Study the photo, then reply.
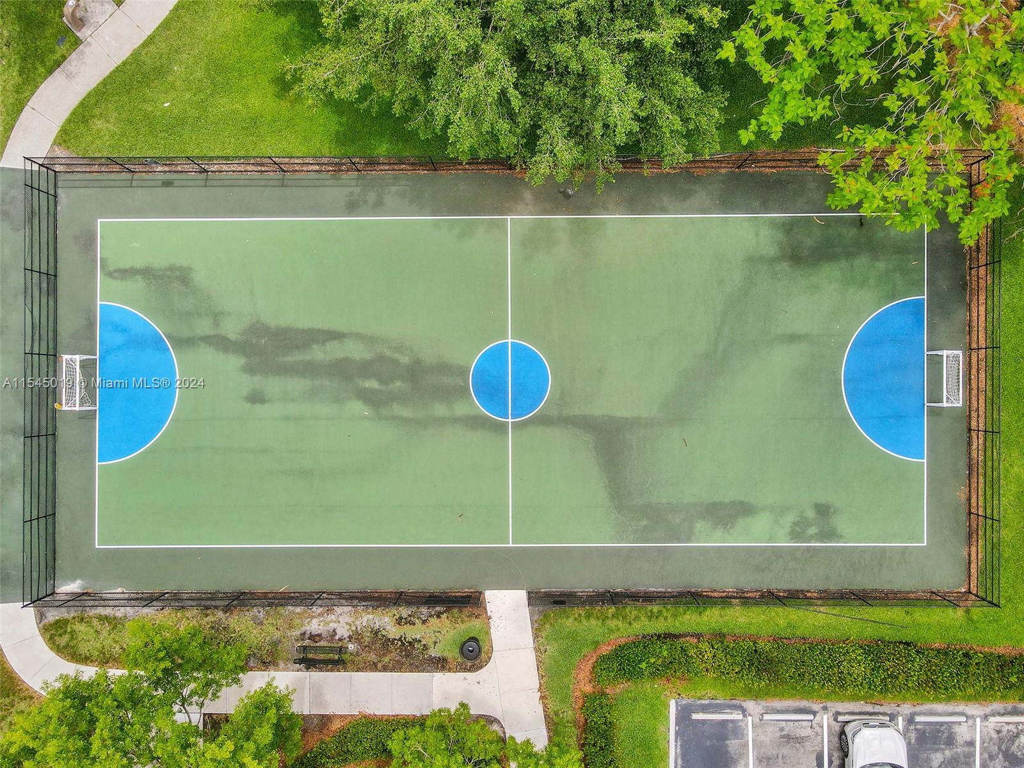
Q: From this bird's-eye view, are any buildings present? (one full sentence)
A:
No, there's no building here.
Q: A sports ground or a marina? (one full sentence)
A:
It's a sports ground.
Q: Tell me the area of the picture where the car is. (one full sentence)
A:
Look in the bottom right portion of the view to spot the car.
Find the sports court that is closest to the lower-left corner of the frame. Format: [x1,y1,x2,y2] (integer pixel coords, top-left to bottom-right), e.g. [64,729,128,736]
[0,166,55,604]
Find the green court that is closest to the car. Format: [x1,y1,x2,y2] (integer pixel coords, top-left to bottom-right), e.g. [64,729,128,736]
[55,168,967,592]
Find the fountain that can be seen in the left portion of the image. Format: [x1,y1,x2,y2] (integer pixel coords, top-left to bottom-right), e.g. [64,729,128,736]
[58,0,86,31]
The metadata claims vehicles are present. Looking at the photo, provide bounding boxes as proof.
[842,716,905,768]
